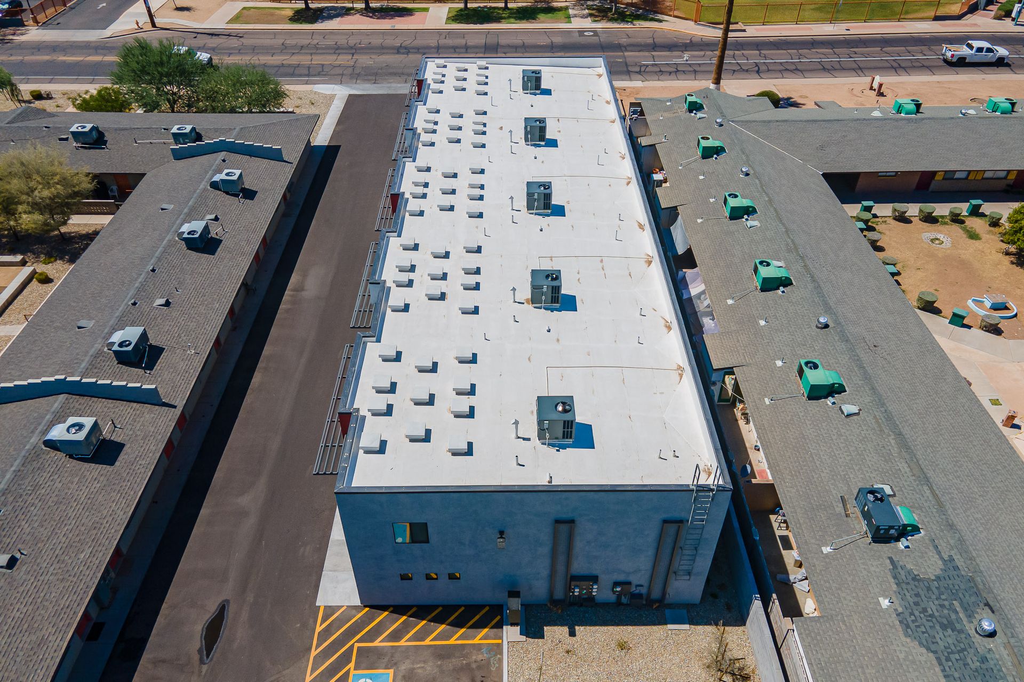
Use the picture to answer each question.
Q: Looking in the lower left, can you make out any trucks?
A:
No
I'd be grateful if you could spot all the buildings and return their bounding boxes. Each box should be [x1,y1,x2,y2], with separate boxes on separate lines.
[0,105,320,682]
[334,55,732,609]
[638,83,1024,682]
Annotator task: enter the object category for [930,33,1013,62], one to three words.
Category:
truck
